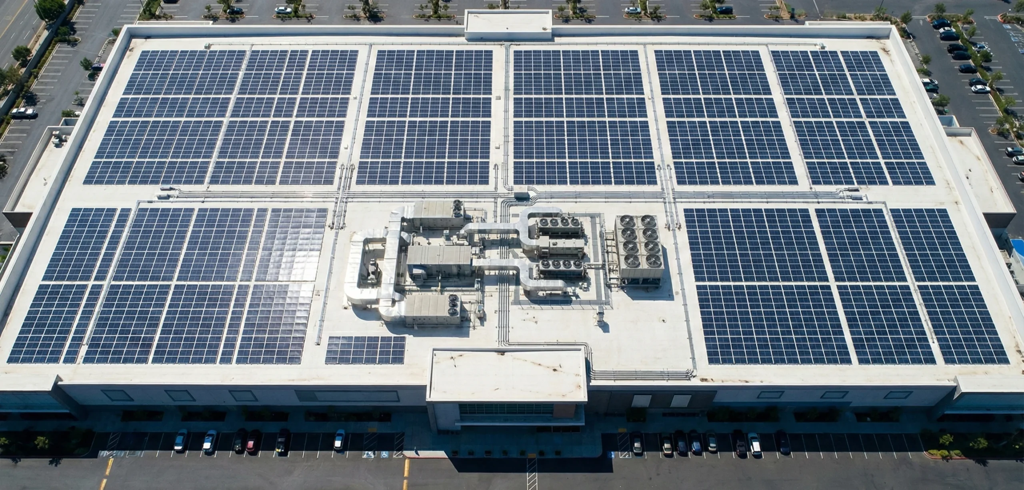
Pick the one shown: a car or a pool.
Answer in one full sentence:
The one in the frame is a car.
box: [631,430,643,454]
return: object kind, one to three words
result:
vehicle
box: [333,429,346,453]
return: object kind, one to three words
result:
vehicle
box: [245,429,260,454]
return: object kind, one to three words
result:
car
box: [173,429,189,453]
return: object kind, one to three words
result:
car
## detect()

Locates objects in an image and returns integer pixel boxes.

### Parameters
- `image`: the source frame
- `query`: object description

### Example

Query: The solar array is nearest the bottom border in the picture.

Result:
[325,336,406,365]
